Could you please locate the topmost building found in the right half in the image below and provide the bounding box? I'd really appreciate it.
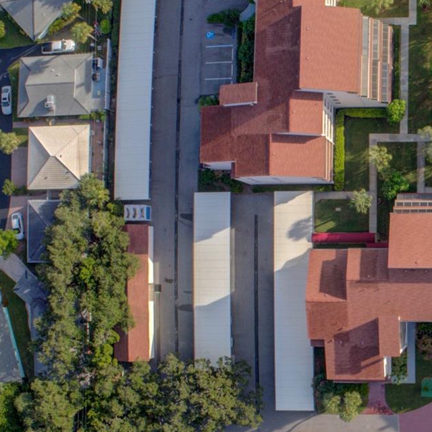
[200,0,398,183]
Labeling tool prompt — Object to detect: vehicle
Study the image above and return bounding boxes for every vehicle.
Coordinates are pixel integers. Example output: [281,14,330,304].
[0,85,12,115]
[39,37,74,51]
[6,211,24,238]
